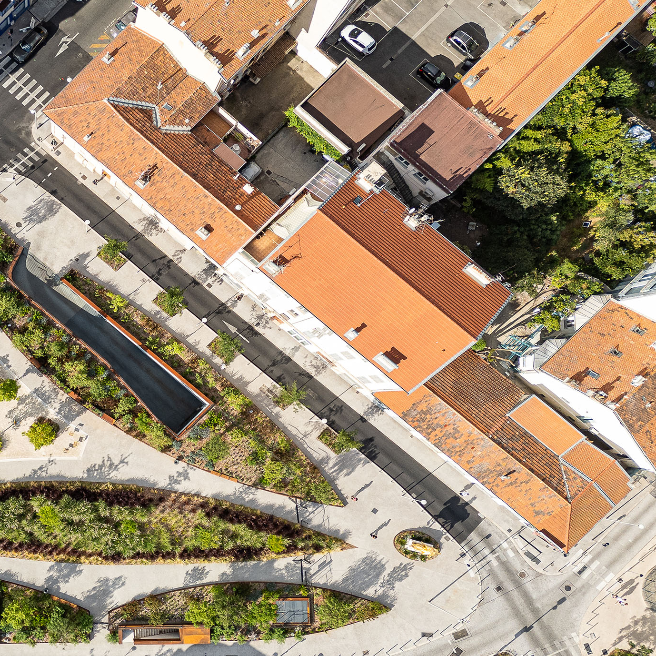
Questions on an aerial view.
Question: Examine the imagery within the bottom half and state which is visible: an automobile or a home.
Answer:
home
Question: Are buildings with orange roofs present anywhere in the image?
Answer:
Yes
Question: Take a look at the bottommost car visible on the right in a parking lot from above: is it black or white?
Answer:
black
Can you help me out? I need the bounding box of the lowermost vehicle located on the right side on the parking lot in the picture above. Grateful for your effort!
[419,58,452,92]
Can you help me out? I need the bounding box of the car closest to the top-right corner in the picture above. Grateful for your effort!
[445,26,483,62]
